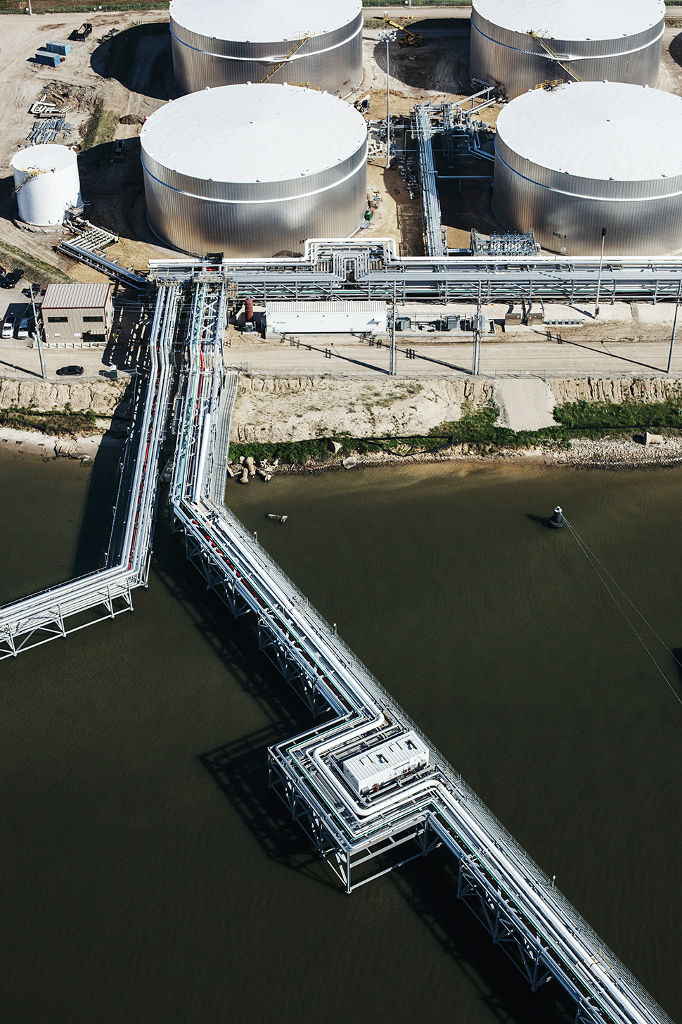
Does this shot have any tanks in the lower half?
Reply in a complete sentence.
No, looking in the lower half, there is no tank.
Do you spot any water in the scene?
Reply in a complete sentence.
Yes, there is water in the image.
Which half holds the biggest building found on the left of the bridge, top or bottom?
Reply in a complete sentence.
The top half of the photo is where the biggest building found on the left of the bridge is.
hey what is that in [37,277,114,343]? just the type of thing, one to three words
building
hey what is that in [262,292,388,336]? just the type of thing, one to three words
building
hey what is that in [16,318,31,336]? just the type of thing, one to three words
car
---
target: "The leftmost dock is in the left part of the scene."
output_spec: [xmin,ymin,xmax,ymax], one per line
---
[0,268,189,662]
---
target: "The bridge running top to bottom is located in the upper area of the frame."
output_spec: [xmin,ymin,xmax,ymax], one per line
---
[165,293,187,458]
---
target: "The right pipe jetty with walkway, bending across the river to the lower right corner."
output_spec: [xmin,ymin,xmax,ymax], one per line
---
[168,267,679,1024]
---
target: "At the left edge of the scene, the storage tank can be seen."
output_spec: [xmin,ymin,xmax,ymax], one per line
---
[8,138,86,229]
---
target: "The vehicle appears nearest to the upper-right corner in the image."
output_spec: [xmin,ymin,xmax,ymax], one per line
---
[351,91,374,112]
